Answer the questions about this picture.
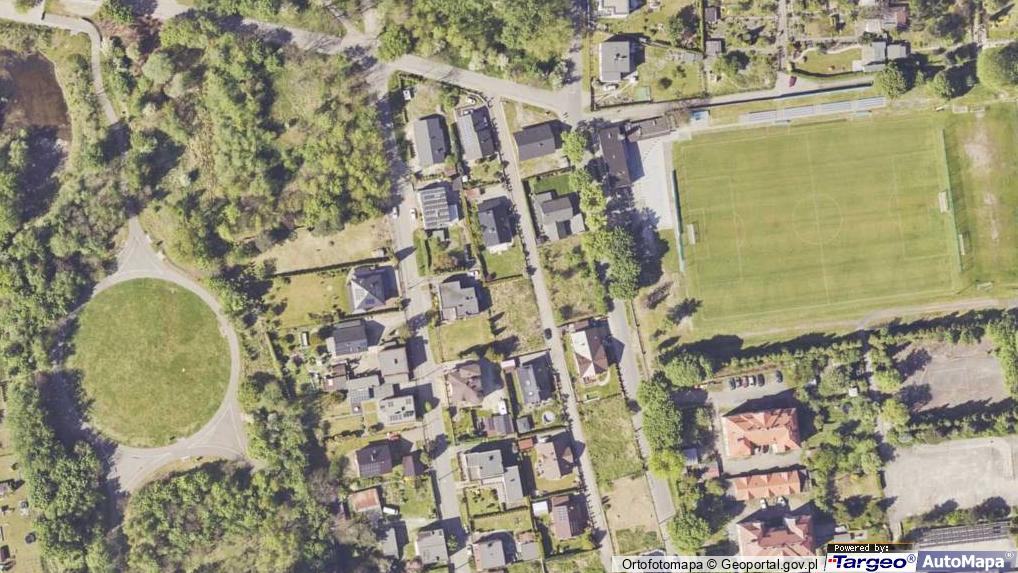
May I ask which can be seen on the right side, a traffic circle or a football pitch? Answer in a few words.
football pitch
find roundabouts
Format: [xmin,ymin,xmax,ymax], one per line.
[58,214,249,495]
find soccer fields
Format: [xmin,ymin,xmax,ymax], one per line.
[677,115,958,325]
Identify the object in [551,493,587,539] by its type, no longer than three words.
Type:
house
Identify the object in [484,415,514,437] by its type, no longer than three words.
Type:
shed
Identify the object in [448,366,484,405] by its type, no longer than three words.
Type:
house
